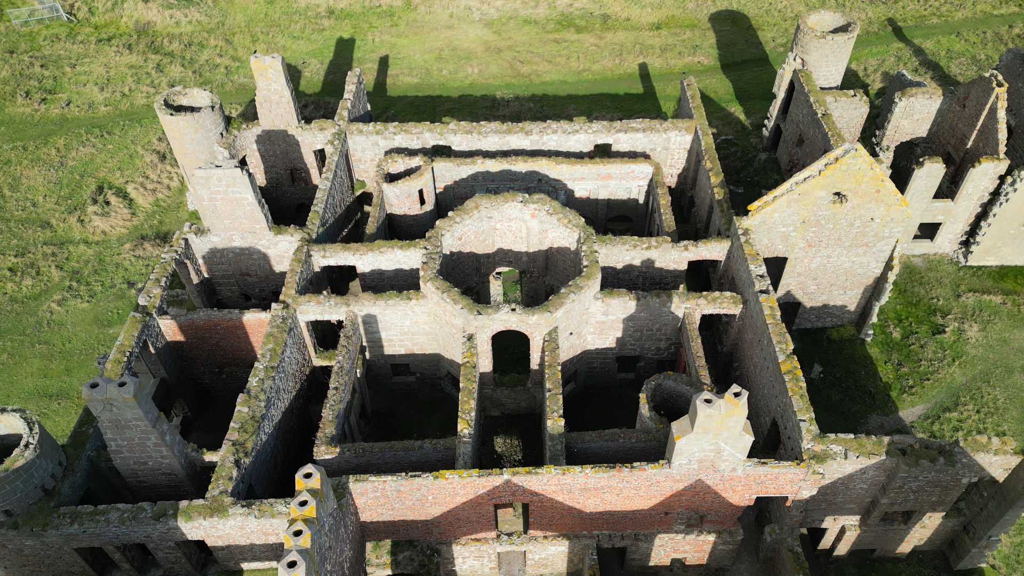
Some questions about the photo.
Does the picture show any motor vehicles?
No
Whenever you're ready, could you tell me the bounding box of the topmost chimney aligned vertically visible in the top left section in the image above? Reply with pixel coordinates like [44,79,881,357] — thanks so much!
[254,50,304,134]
